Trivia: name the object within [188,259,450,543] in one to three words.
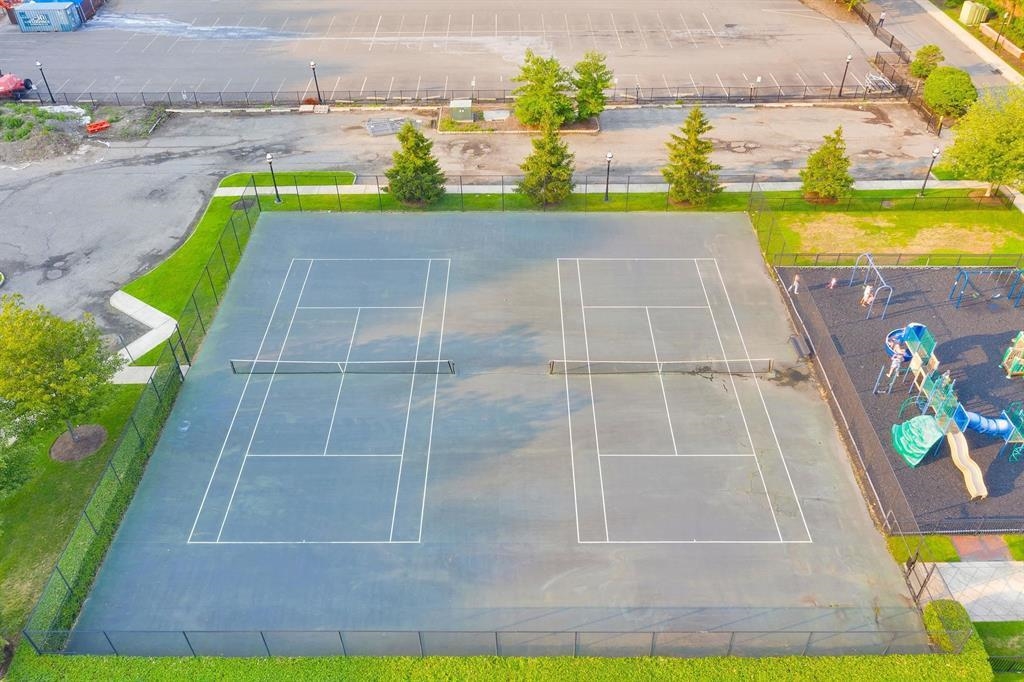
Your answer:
tennis court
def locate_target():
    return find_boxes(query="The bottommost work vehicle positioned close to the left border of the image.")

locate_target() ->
[0,70,35,98]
